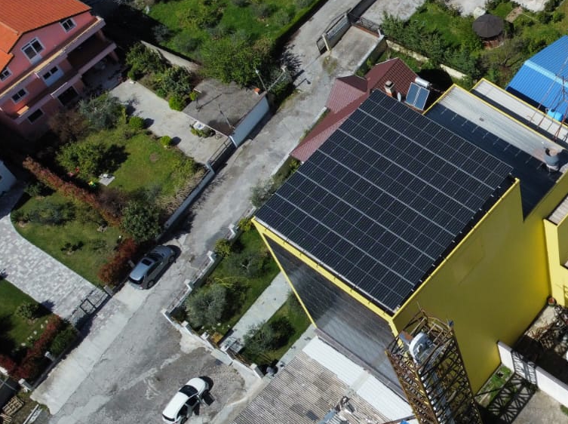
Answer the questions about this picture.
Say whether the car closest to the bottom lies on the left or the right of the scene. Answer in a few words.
left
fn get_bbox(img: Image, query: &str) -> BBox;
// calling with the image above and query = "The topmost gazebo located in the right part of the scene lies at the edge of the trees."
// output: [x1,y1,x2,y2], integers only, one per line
[465,1,510,45]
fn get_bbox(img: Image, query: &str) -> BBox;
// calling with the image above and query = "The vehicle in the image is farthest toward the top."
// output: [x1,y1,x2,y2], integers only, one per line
[124,241,183,289]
